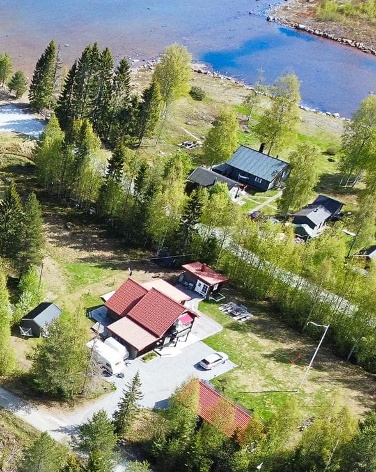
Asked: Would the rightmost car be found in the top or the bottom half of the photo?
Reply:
bottom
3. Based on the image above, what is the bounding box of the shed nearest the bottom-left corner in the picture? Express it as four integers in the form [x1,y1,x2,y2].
[23,301,65,340]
